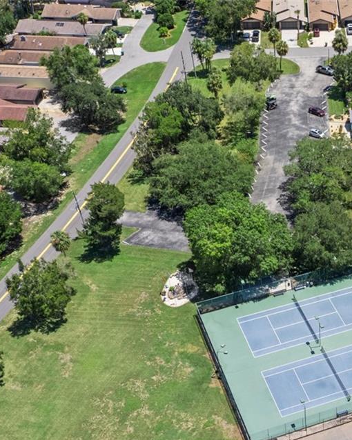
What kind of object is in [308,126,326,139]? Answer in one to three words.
vehicle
